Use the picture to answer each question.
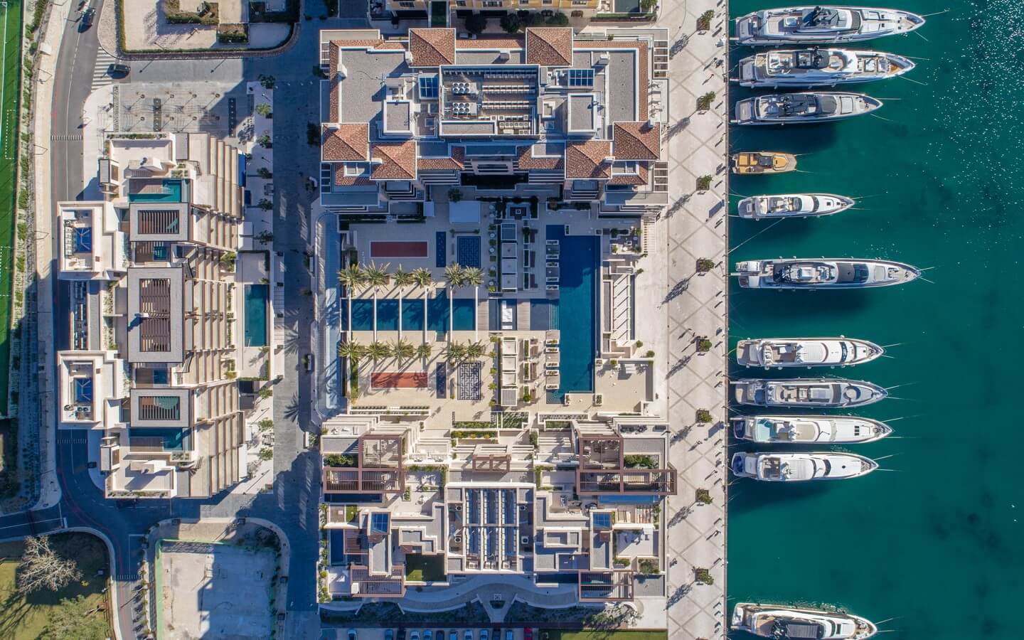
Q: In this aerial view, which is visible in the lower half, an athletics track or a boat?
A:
boat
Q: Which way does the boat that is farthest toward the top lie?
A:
horizontally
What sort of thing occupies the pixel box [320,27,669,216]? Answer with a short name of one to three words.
building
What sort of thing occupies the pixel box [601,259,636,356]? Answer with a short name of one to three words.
building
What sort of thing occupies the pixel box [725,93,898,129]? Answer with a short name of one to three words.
boat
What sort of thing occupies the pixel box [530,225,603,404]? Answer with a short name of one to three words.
swimming pool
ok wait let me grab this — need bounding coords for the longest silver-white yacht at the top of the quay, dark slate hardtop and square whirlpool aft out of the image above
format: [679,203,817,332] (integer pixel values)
[723,6,942,52]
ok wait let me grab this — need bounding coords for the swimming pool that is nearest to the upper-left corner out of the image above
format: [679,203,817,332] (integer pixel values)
[128,179,184,203]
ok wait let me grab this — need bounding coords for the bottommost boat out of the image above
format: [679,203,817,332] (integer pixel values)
[725,598,893,640]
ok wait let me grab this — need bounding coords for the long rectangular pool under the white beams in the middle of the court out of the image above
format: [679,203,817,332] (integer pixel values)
[343,287,475,341]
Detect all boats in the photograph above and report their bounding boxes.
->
[724,149,814,174]
[724,413,904,447]
[725,191,871,252]
[724,255,932,297]
[724,376,899,410]
[723,6,942,52]
[725,49,927,93]
[724,334,898,369]
[724,451,896,487]
[725,598,893,640]
[725,93,898,129]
